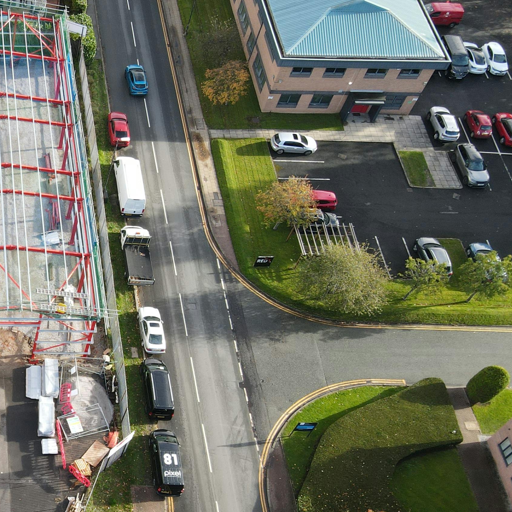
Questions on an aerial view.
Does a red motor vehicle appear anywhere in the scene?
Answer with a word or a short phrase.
Yes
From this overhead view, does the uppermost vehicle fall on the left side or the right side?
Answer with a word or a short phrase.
right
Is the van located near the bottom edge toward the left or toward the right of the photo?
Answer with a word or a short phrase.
left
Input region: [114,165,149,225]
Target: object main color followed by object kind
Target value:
white van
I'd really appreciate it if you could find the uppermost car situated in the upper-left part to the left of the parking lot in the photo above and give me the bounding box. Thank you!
[125,66,149,99]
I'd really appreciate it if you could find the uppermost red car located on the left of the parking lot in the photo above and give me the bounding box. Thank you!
[106,113,131,150]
